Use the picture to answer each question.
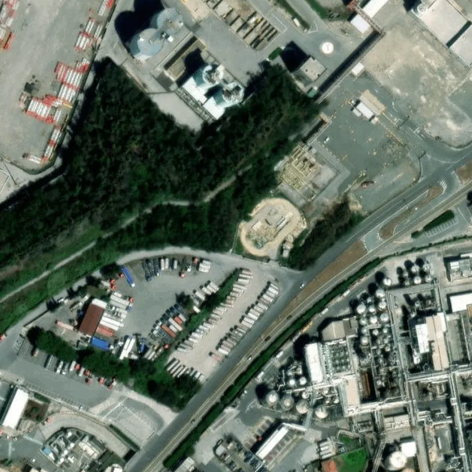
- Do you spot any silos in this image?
Yes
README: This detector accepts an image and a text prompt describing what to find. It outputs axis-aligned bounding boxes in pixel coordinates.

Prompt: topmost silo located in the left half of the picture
[151,8,182,40]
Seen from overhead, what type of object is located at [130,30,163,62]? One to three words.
silo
